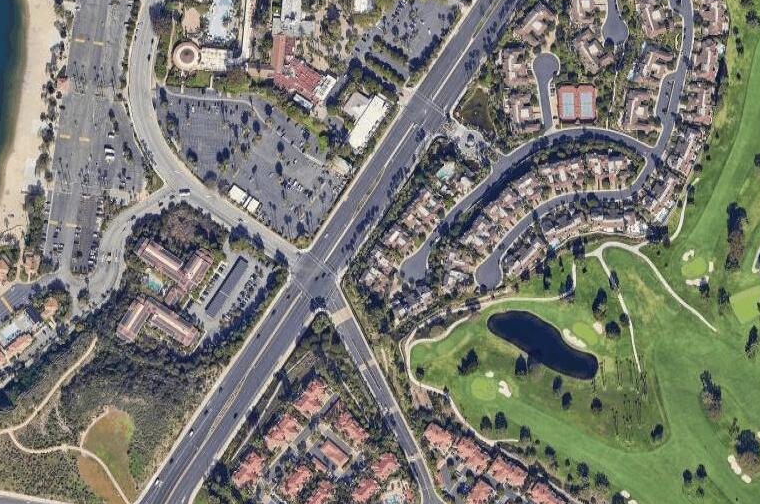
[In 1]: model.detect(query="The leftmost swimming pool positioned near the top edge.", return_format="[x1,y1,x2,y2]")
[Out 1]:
[207,0,234,41]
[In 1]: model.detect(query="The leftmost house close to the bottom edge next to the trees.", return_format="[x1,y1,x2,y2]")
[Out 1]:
[231,449,268,490]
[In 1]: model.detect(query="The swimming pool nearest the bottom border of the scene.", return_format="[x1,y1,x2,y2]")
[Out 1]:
[383,482,408,504]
